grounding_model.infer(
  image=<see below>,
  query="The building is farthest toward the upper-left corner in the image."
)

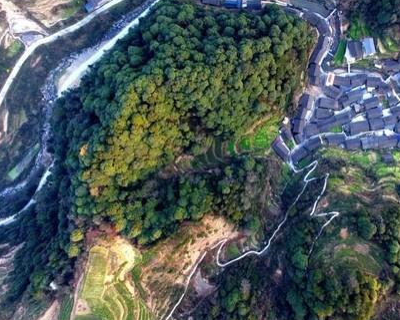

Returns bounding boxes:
[17,29,47,42]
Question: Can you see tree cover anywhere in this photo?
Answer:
Yes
